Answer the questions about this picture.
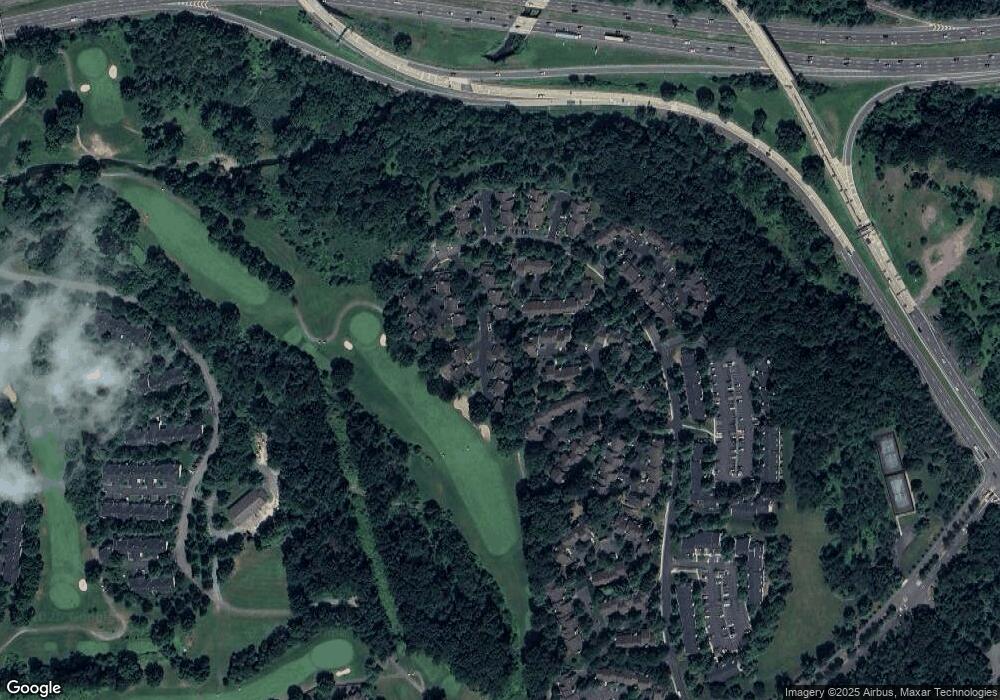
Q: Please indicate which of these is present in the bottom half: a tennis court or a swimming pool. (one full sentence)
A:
The one visible in the bottom half is a tennis court.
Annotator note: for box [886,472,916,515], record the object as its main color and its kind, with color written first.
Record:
gray tennis court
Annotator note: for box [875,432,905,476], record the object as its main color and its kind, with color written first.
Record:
gray tennis court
